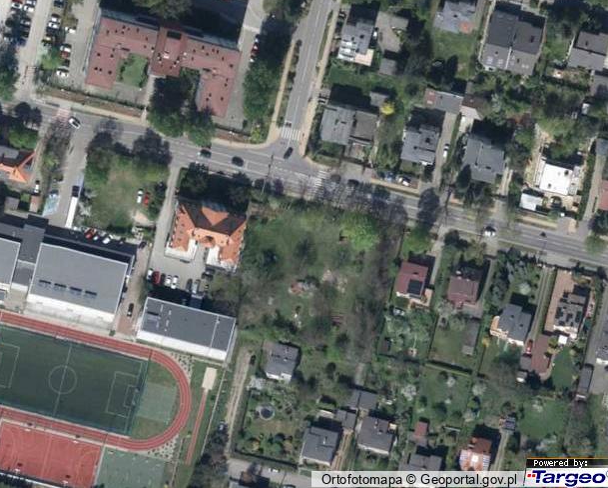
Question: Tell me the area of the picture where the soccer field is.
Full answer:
Look in the bottom left portion of the view to spot the soccer field.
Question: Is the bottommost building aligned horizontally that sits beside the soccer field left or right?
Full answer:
The bottommost building aligned horizontally that sits beside the soccer field sits on the left side.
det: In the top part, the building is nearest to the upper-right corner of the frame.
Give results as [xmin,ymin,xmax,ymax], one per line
[567,32,608,75]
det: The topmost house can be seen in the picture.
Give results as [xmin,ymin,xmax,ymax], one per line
[433,1,477,39]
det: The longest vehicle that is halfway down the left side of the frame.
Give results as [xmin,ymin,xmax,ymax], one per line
[66,193,78,228]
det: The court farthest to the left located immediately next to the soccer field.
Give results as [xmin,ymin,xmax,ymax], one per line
[0,418,104,488]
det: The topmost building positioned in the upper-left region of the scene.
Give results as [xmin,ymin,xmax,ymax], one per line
[85,16,241,128]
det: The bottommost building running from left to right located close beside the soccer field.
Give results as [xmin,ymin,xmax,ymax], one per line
[138,297,235,358]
